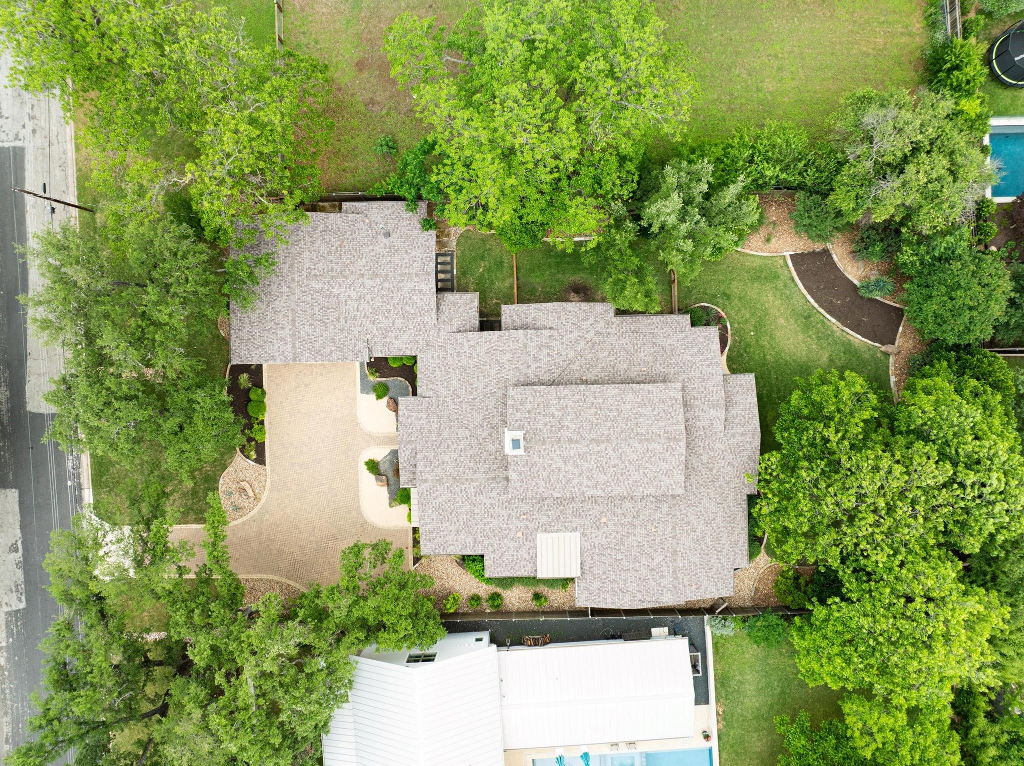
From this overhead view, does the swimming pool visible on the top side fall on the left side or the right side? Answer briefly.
right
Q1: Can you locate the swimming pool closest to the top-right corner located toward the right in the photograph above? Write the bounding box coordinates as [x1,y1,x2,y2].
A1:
[983,118,1024,203]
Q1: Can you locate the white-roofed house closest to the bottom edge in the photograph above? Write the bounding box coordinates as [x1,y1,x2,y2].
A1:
[323,632,695,766]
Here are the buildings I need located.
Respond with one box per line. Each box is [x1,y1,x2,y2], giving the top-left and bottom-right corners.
[228,201,760,609]
[323,632,695,766]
